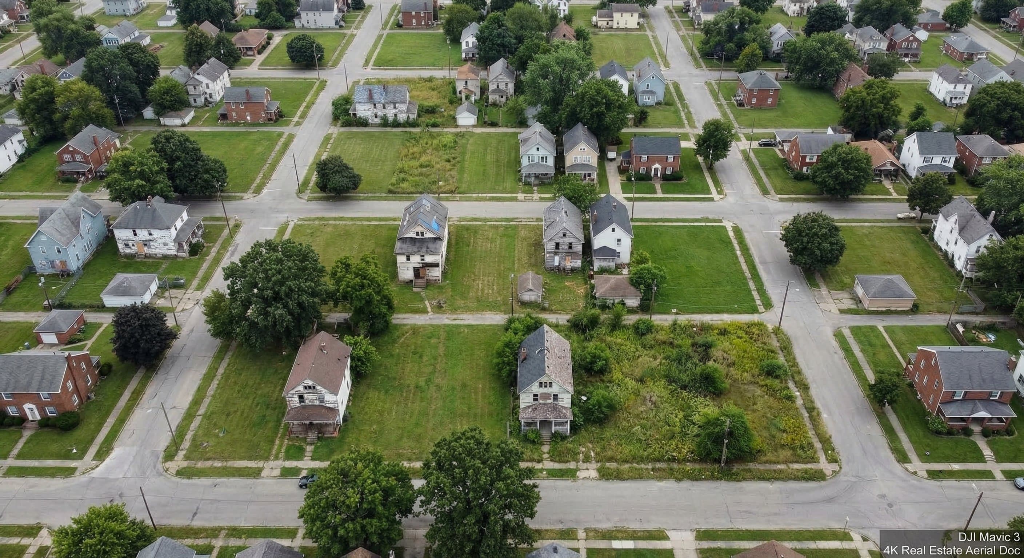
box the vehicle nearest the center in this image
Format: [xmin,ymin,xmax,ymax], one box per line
[605,140,617,158]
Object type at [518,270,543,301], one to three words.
shed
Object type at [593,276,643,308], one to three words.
building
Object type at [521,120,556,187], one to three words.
house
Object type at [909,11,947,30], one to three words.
house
